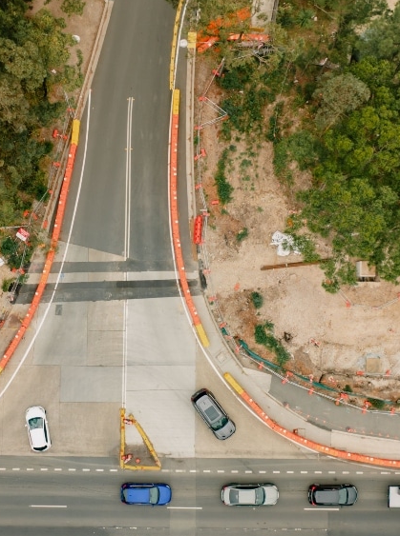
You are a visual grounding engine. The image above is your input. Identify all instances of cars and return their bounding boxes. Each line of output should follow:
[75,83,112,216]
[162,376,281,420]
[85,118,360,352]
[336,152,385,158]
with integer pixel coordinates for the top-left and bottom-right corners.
[221,481,277,509]
[191,386,234,442]
[24,405,51,454]
[307,482,357,509]
[121,481,172,509]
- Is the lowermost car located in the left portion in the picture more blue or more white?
blue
